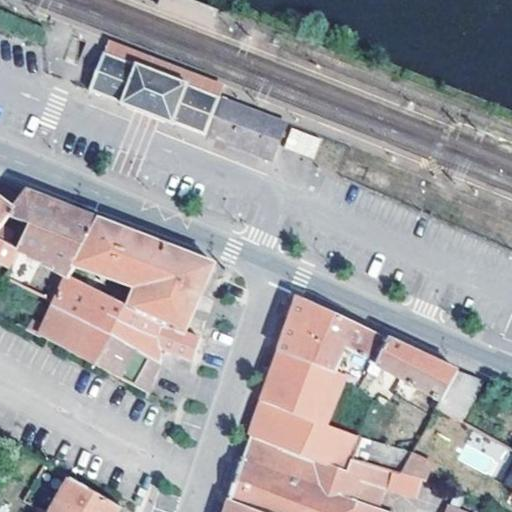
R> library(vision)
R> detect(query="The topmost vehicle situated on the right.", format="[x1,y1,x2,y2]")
[346,184,358,204]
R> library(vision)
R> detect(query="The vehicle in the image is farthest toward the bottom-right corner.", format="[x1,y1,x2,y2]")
[459,298,474,319]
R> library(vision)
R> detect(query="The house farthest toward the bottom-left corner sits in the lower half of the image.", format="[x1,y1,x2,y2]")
[47,477,125,512]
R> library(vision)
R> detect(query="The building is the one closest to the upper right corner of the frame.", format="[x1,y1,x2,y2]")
[284,128,322,158]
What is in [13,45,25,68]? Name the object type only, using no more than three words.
vehicle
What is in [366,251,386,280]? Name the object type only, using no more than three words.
vehicle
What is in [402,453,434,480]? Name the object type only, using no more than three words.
shed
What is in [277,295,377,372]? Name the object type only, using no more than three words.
house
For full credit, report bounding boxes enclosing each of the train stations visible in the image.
[88,40,223,136]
